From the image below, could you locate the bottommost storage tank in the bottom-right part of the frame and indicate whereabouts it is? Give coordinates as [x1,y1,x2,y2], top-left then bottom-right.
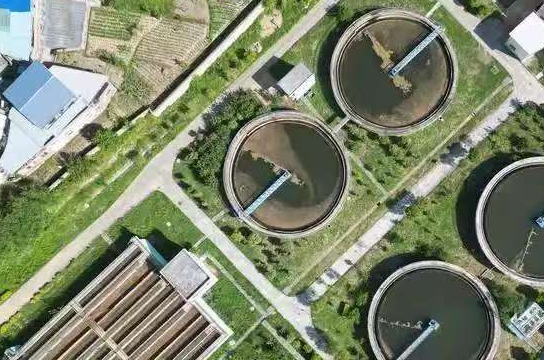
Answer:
[367,259,501,360]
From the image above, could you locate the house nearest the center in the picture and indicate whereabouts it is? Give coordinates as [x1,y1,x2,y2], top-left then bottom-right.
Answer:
[278,63,313,103]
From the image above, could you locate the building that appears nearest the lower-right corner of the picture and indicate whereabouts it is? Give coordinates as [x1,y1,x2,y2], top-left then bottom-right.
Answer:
[504,301,544,337]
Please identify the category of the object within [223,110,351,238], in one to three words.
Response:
storage tank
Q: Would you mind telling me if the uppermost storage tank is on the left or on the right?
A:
right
